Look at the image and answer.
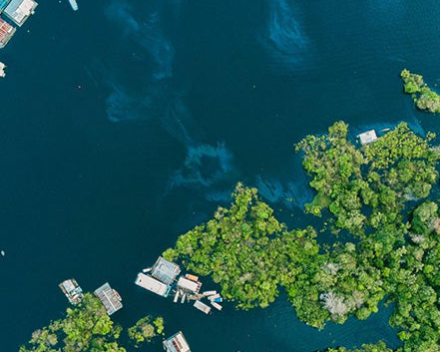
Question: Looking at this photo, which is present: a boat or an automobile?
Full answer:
I can see a boat in this picture.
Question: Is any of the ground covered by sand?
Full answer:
No, the scene doesn't show any sand.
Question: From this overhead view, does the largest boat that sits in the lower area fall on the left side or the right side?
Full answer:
The largest boat that sits in the lower area is on the left side of the image.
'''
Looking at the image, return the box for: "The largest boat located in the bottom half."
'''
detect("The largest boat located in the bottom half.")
[135,271,172,297]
